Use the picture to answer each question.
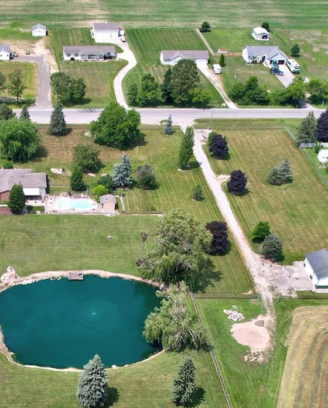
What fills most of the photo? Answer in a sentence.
Most of the picture is covered by grass.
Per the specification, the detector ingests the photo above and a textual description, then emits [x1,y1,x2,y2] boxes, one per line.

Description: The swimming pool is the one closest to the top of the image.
[43,195,103,211]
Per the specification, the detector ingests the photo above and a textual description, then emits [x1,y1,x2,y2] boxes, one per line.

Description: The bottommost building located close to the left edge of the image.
[0,169,48,202]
